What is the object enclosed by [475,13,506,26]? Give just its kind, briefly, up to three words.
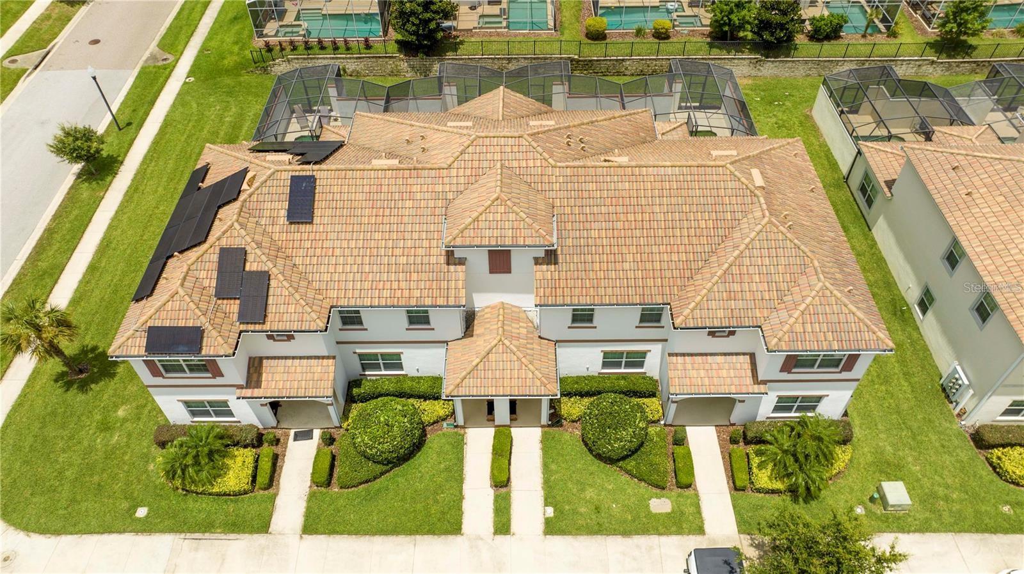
swimming pool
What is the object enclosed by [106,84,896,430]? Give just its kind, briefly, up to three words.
house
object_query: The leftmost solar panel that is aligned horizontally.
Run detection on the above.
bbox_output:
[143,323,200,350]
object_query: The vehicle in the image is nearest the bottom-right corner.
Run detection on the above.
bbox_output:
[685,548,746,574]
